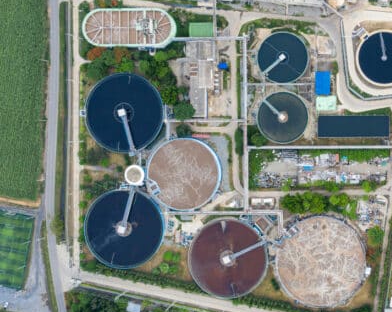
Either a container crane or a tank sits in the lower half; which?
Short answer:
tank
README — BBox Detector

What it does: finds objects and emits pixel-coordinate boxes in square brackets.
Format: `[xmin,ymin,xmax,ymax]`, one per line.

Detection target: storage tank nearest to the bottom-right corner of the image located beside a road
[276,215,367,307]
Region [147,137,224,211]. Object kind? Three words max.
storage tank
